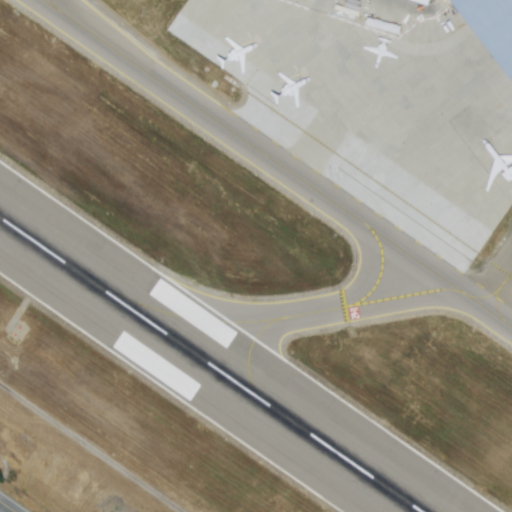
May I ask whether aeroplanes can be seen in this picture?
Yes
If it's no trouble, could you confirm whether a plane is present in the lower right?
No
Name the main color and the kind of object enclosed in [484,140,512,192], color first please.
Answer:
white airplane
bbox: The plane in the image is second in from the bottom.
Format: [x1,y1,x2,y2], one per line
[270,72,310,108]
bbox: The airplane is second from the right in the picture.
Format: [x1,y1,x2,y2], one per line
[364,36,398,68]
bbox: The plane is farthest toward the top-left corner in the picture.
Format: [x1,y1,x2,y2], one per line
[216,37,257,72]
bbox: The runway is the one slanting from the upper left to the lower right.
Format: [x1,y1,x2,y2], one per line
[0,160,505,512]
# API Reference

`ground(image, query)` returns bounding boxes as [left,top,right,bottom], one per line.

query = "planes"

[270,72,310,108]
[216,37,257,72]
[484,140,512,192]
[364,36,398,68]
